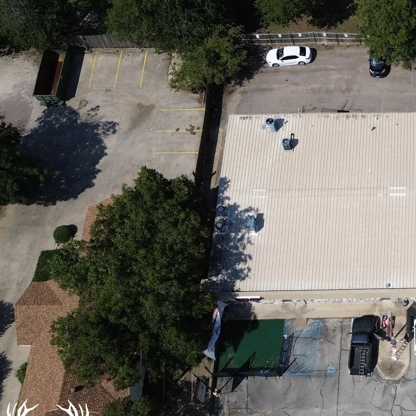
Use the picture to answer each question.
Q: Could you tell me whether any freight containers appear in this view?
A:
Yes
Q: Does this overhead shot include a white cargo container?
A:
No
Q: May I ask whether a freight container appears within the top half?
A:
Yes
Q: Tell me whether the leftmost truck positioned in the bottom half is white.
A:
No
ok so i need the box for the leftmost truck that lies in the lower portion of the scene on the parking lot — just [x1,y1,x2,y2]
[348,318,383,379]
